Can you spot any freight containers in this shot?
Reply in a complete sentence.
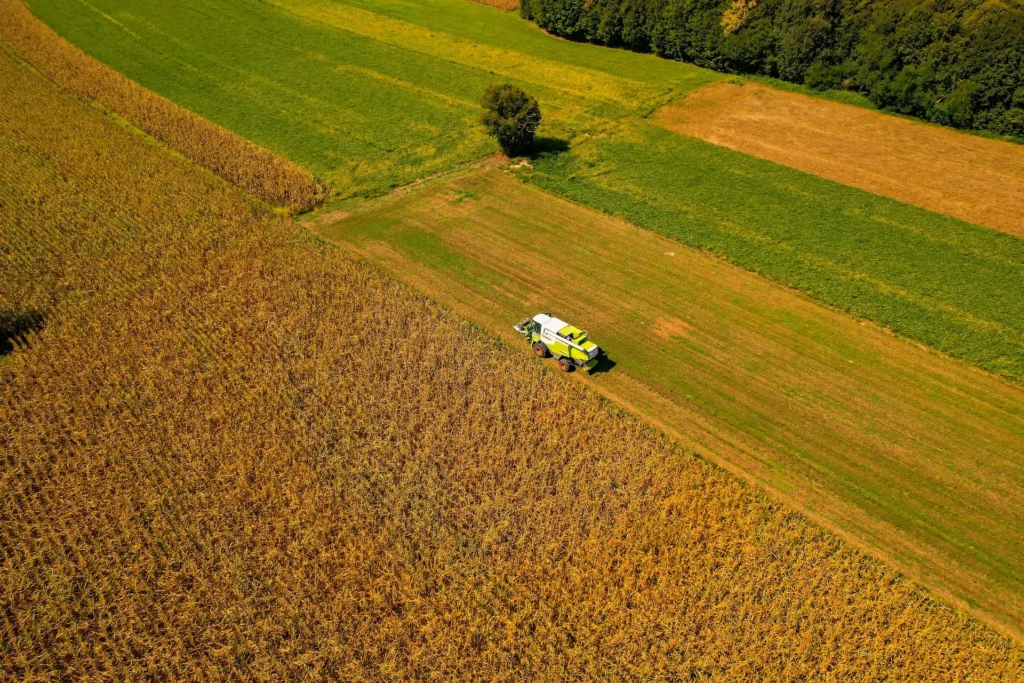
No, the frame has no freight container in it.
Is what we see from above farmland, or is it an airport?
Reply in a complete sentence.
What you see here is farmland.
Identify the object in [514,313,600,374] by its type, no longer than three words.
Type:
work vehicle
